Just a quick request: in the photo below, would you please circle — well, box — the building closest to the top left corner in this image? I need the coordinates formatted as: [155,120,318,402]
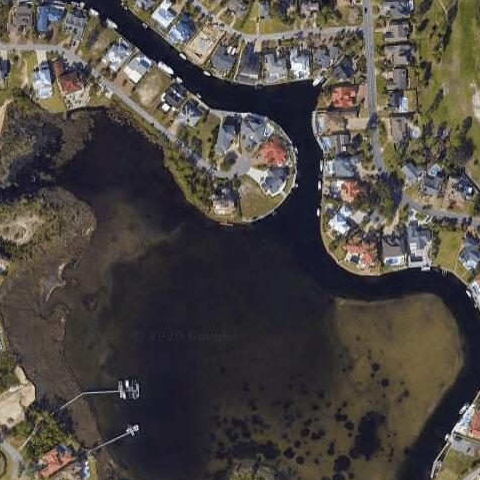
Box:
[13,4,34,28]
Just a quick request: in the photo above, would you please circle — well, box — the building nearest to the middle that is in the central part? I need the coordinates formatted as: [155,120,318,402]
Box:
[214,189,234,209]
